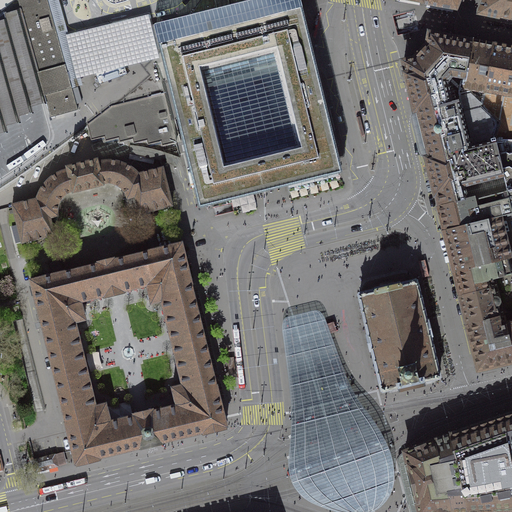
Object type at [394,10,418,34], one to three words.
building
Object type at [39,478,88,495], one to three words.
vehicle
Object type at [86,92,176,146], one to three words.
building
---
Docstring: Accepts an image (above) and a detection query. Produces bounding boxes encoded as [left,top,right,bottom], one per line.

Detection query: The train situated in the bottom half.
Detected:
[232,323,245,390]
